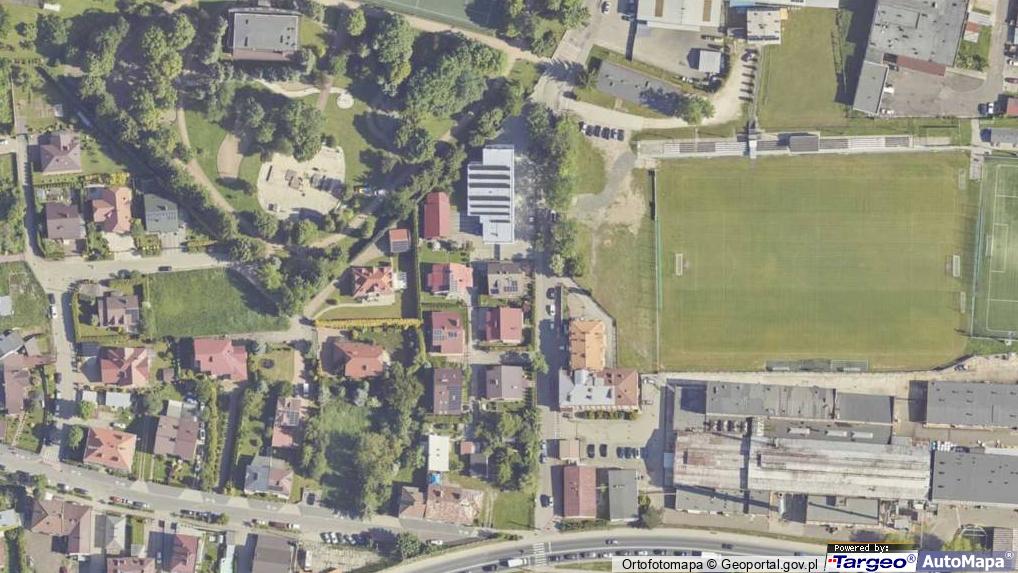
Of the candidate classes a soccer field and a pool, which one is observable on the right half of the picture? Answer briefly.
soccer field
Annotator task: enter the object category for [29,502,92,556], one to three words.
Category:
house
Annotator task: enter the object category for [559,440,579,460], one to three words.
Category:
shed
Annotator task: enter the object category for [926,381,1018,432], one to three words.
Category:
building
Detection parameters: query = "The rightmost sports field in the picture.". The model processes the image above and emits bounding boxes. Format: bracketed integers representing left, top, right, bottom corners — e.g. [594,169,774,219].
[973,152,1018,340]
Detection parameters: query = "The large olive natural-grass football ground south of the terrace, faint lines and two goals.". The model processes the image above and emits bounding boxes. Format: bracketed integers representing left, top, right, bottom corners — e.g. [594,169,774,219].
[657,152,974,372]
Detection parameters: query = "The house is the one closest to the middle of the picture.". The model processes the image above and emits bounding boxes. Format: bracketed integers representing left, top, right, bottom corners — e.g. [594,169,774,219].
[488,263,525,298]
